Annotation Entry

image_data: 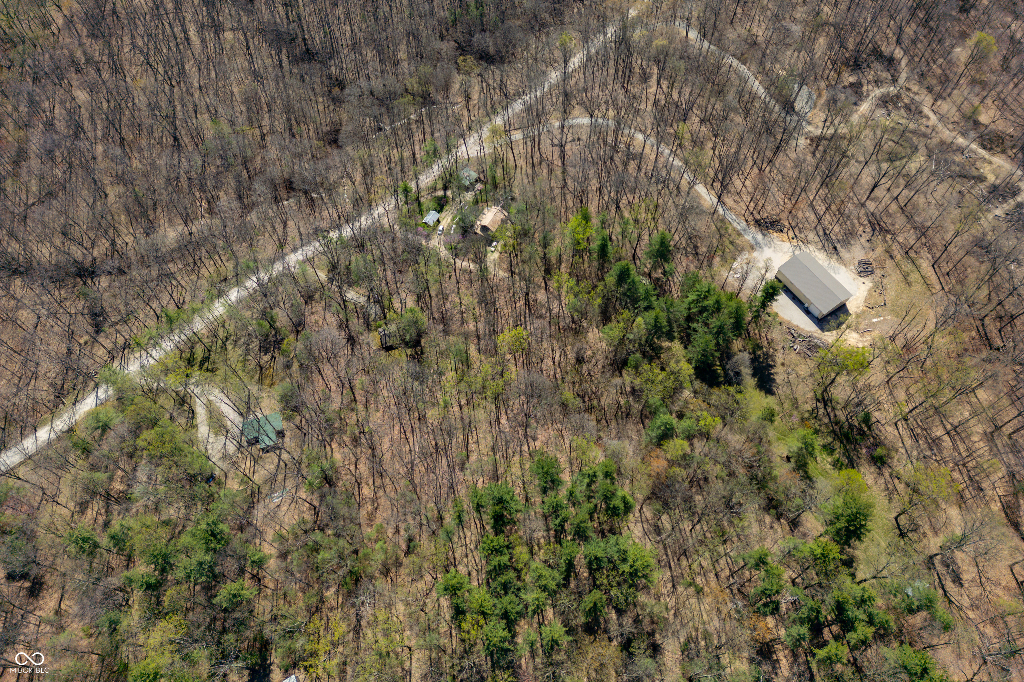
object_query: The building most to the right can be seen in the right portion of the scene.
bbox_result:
[775,251,853,320]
